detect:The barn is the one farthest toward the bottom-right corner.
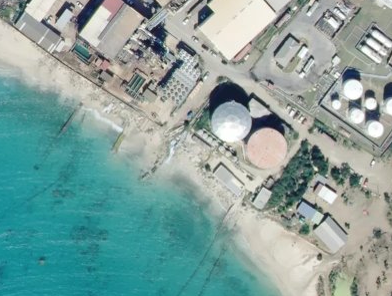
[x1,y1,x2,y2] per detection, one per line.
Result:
[313,214,351,254]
